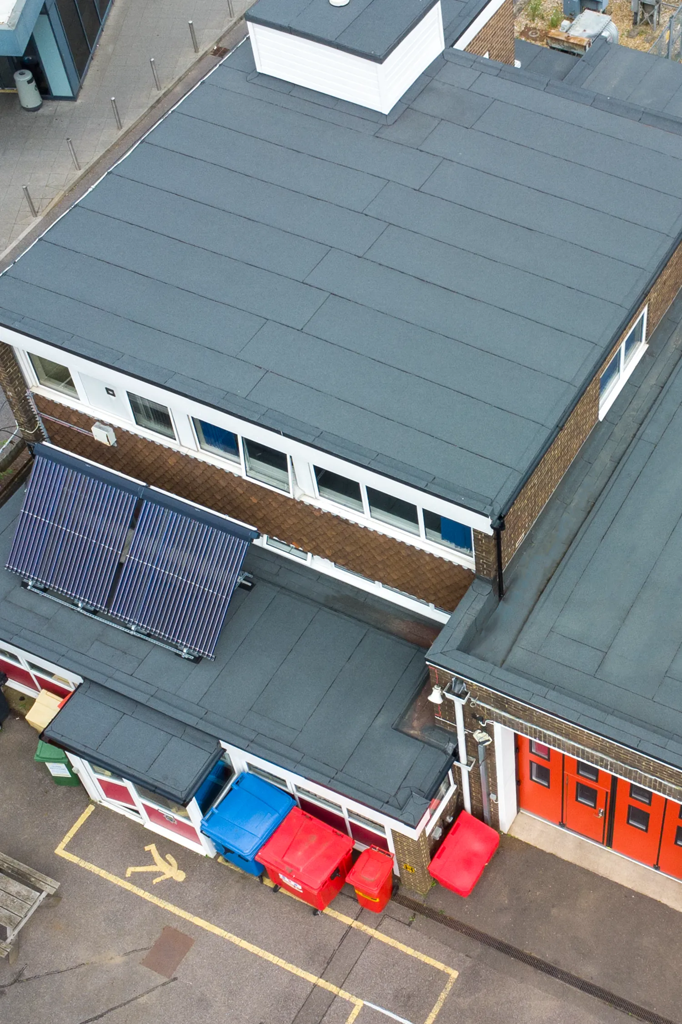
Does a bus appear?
No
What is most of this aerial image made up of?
buildings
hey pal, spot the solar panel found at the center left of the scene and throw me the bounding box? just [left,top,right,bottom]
[7,435,266,671]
